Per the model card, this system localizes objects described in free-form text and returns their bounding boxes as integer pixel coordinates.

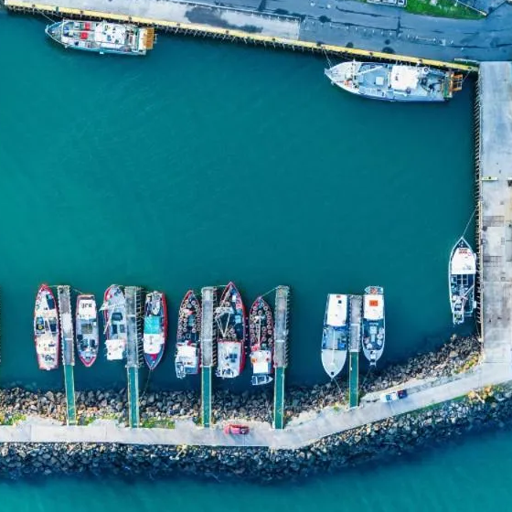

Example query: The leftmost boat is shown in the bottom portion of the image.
[34,284,60,371]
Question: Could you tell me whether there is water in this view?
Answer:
Yes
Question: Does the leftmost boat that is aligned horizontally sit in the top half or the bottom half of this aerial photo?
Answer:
top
